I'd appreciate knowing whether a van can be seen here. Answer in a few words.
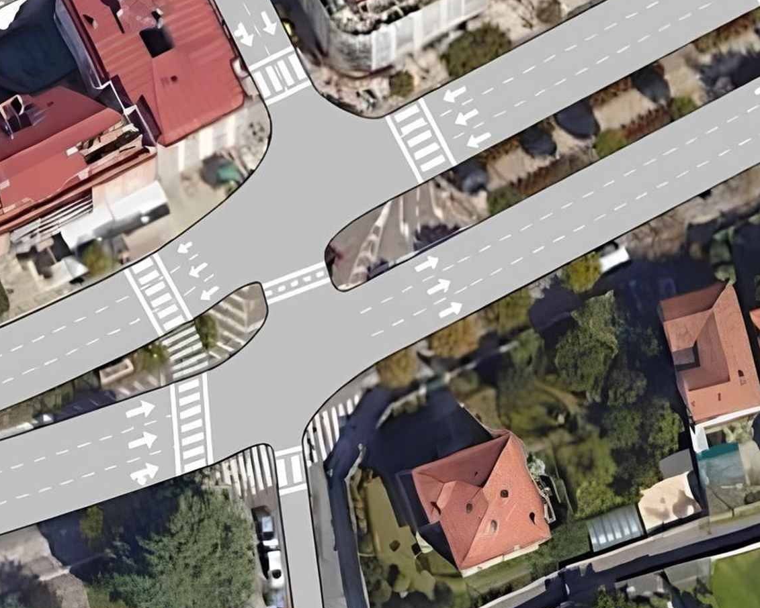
Yes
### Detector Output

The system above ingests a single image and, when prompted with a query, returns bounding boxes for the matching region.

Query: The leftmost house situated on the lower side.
[413,428,552,574]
